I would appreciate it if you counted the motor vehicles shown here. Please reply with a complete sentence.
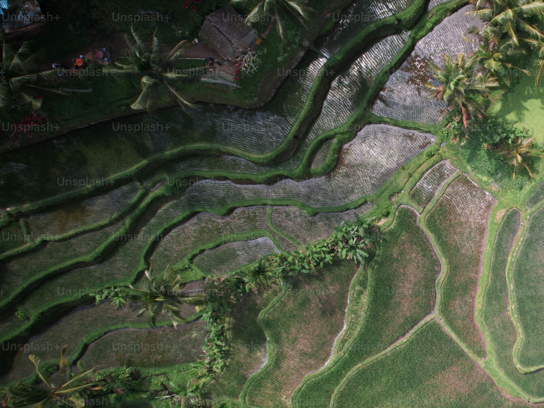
I count no motor vehicles.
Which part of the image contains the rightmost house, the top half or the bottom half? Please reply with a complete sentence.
The top half of the photo is where the rightmost house is.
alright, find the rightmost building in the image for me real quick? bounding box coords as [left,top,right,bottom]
[196,0,267,70]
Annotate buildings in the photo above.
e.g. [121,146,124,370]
[196,0,267,70]
[4,0,57,42]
